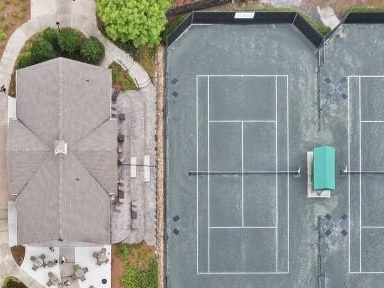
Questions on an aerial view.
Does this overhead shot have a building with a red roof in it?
No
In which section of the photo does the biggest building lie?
left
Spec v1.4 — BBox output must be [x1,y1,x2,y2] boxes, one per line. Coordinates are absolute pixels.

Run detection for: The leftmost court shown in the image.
[167,23,320,288]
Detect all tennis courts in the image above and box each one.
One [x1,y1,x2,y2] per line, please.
[167,23,320,288]
[318,23,384,288]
